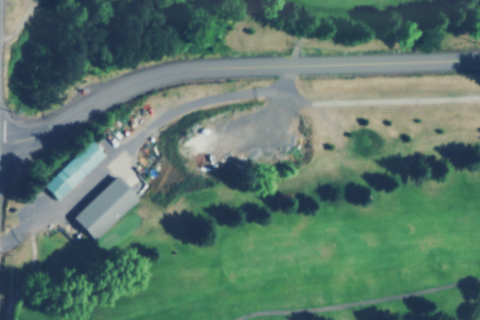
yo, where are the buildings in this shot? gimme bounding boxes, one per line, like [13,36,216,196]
[76,178,139,242]
[46,143,107,202]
